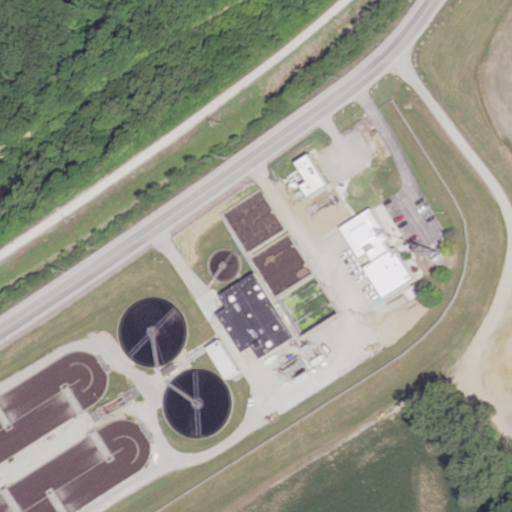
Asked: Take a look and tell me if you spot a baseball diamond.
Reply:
No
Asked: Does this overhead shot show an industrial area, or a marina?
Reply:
industrial area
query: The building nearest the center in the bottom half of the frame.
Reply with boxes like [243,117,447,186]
[216,271,295,358]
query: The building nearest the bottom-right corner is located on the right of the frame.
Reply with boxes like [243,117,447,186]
[362,251,415,297]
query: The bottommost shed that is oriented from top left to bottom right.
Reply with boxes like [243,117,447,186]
[205,340,242,381]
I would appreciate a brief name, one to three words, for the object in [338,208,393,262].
building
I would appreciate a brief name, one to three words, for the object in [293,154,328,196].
building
